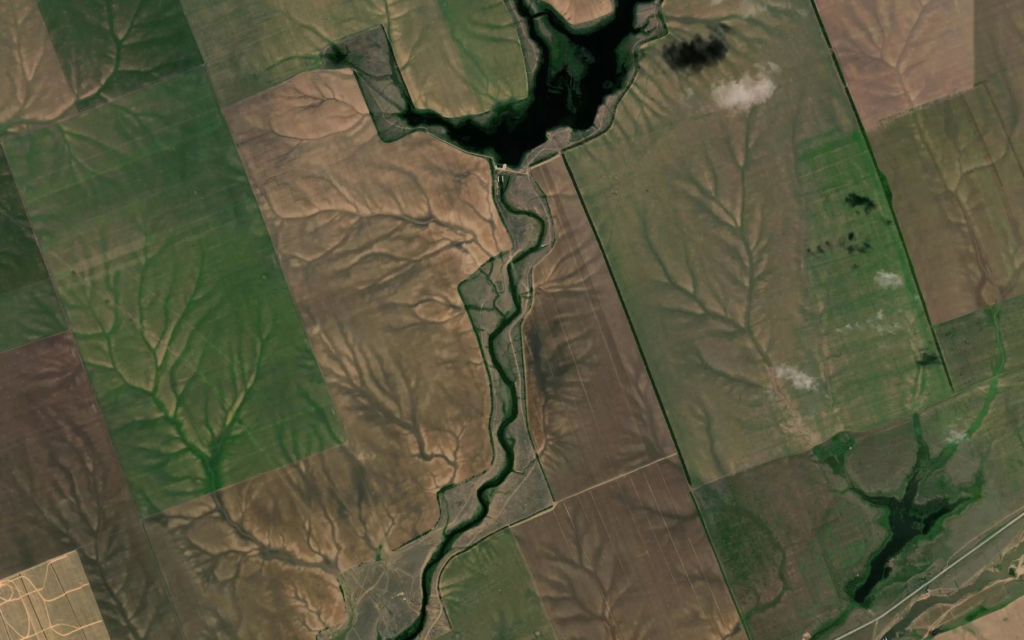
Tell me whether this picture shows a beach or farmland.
farmland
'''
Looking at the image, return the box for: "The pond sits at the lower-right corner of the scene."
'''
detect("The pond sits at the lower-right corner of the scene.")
[850,470,974,605]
